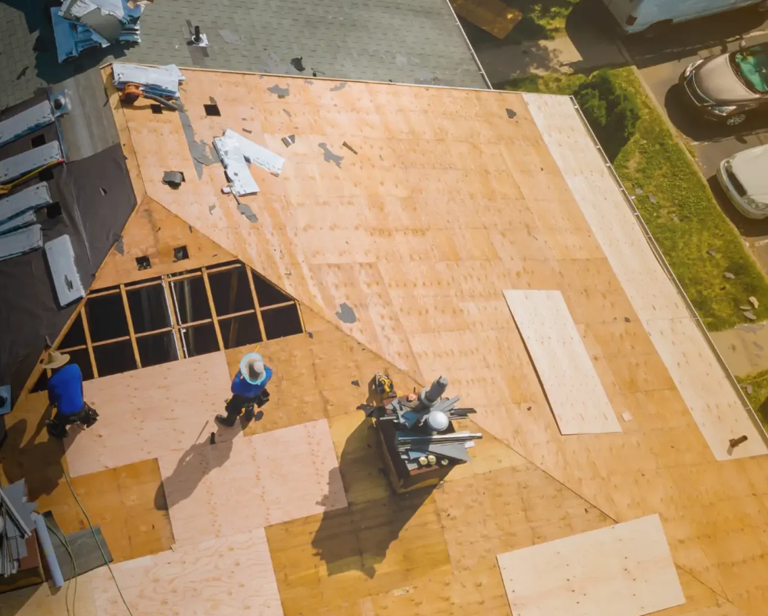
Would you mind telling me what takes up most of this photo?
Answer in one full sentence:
The largest share of the image is taken up by buildings.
